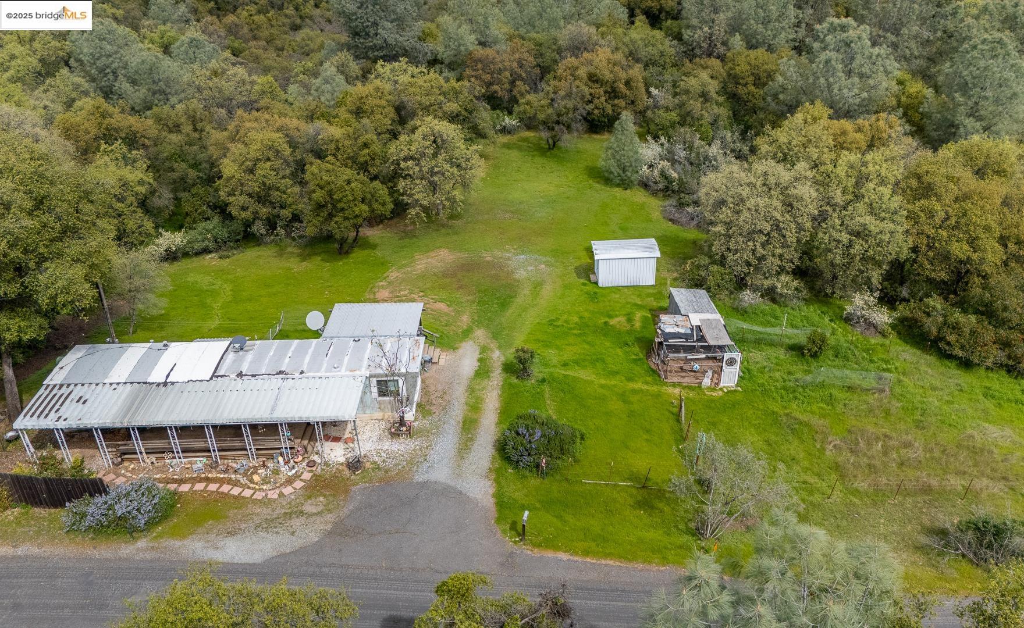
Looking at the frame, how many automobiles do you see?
zero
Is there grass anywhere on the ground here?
Yes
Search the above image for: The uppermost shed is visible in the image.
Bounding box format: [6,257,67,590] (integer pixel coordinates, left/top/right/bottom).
[592,236,662,285]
